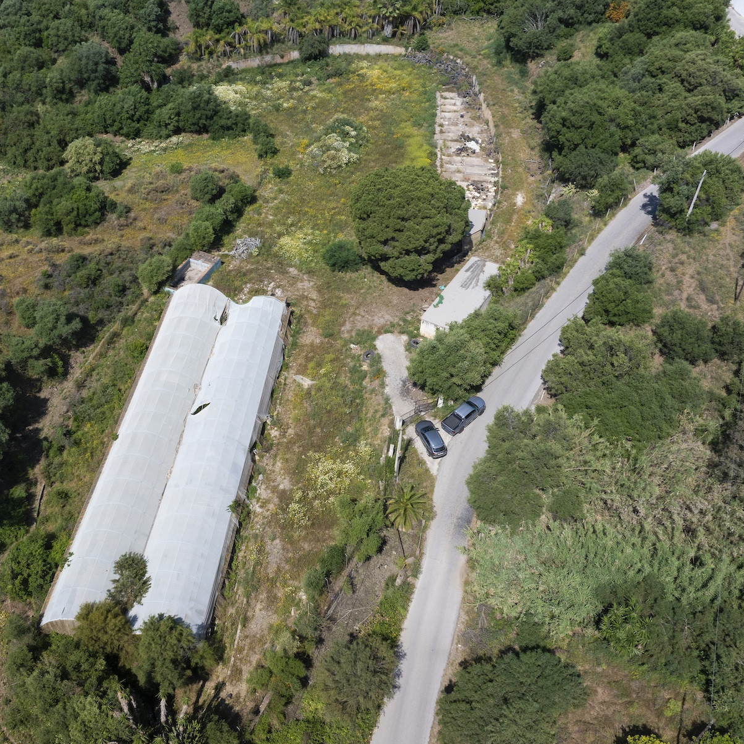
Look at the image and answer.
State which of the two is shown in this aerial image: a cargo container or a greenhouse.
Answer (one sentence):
Visible in the photo is a greenhouse.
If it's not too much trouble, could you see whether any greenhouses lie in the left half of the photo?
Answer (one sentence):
Yes, I can see a greenhouse in the left half of the photo.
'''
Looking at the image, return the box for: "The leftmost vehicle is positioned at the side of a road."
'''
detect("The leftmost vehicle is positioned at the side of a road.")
[414,416,450,458]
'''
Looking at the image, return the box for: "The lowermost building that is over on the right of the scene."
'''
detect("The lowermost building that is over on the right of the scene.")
[421,257,503,335]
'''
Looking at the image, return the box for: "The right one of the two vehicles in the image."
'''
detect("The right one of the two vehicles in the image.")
[437,393,491,436]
